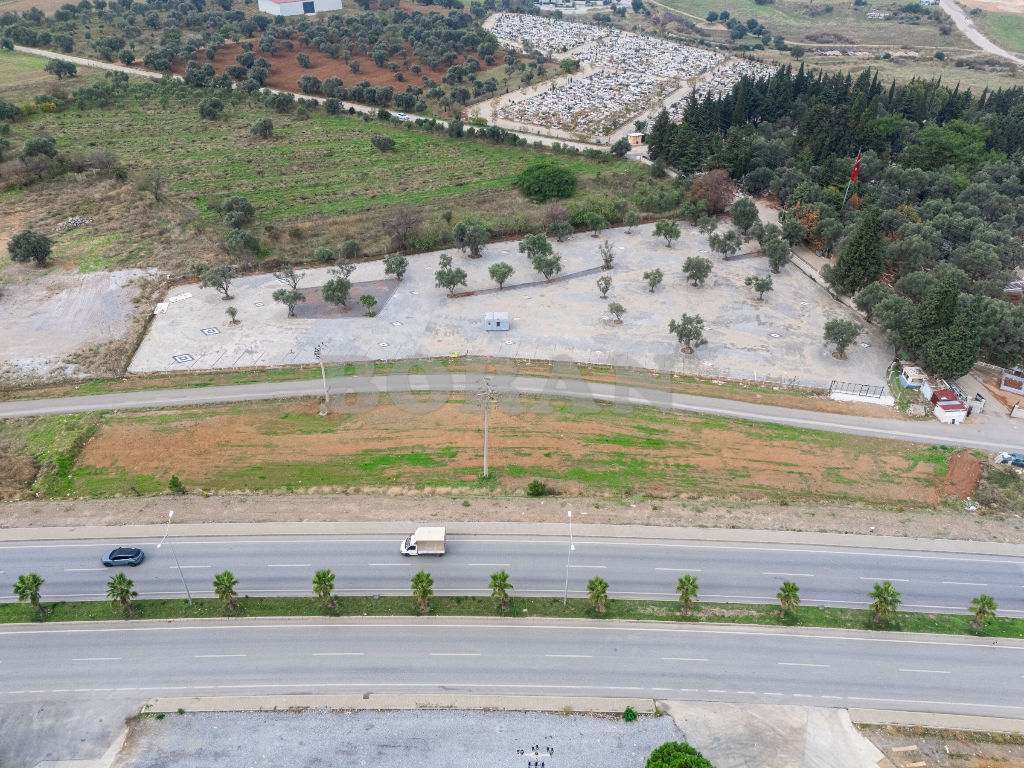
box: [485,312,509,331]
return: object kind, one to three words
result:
building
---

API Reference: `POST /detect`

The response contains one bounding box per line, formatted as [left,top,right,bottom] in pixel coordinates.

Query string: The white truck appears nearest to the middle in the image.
[403,524,446,556]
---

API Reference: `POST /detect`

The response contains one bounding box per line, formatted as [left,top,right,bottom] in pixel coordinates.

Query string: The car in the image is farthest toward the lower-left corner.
[101,544,148,566]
